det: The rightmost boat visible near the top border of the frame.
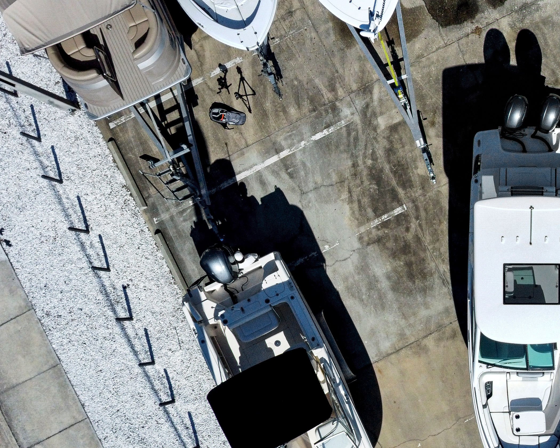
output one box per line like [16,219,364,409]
[322,0,399,42]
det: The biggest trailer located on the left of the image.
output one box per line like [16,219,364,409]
[129,85,229,242]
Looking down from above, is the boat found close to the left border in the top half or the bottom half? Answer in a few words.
top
